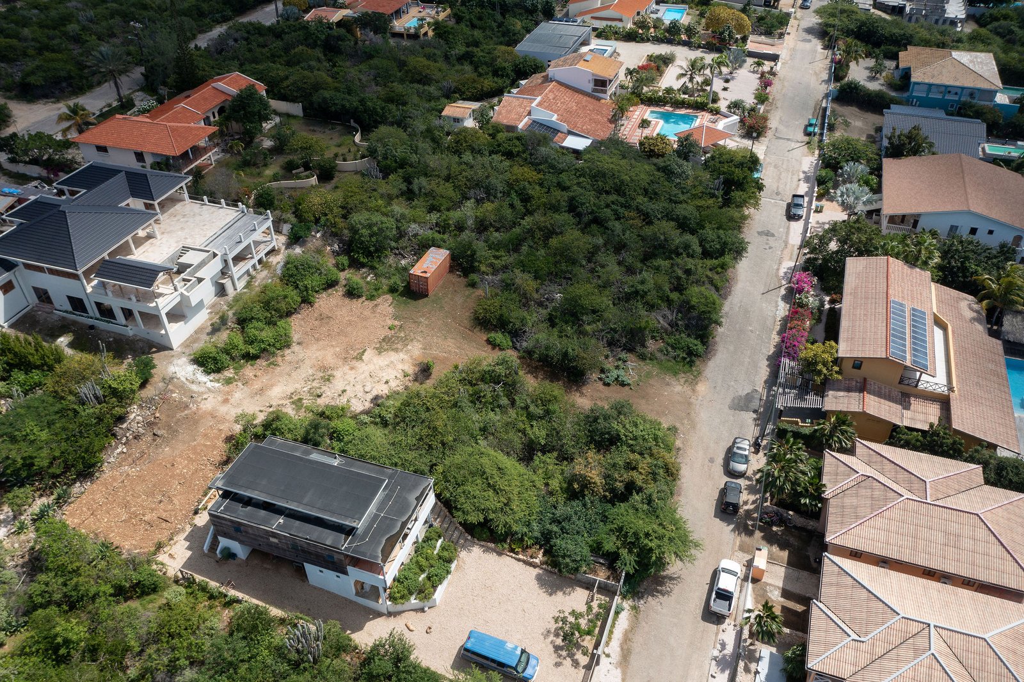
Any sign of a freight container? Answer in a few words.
Yes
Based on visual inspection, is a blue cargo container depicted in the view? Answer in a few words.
No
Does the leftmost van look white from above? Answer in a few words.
No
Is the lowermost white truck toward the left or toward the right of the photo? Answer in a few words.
right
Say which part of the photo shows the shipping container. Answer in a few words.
center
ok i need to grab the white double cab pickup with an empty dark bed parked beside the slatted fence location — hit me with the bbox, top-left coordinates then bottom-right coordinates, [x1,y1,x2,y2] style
[708,560,743,623]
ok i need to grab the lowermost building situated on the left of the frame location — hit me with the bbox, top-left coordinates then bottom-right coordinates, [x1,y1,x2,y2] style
[198,432,429,615]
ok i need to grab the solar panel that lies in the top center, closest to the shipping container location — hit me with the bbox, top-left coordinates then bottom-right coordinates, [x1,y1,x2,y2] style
[526,119,558,140]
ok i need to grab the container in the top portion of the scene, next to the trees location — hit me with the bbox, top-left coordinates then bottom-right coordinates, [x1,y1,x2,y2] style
[410,248,451,295]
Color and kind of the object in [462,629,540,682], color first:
blue van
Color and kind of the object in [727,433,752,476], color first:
gray car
